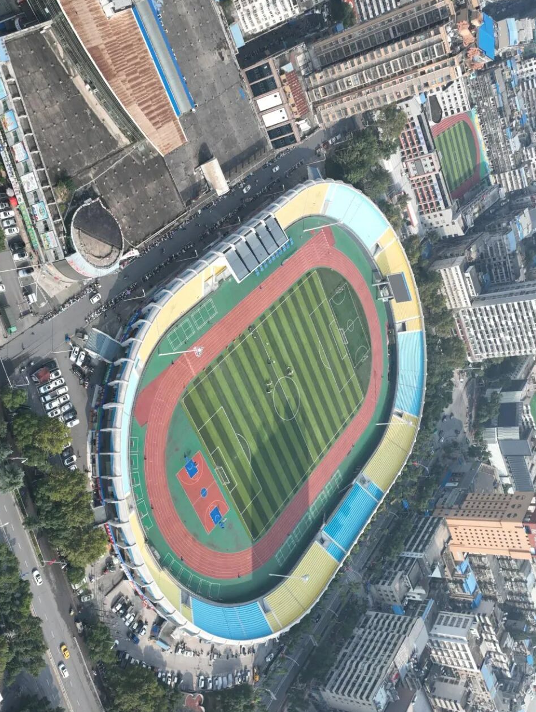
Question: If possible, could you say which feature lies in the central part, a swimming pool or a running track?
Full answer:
The feature located in the central part is a running track.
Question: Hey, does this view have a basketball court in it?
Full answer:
Yes, you can see a basketball court in this photo.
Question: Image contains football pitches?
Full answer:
Yes, there's a football pitch down there.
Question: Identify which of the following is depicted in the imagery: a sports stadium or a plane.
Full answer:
This aerial view contains a sports stadium.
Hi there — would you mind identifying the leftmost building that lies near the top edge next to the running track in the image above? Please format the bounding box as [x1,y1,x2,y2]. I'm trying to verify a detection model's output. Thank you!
[0,0,272,283]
